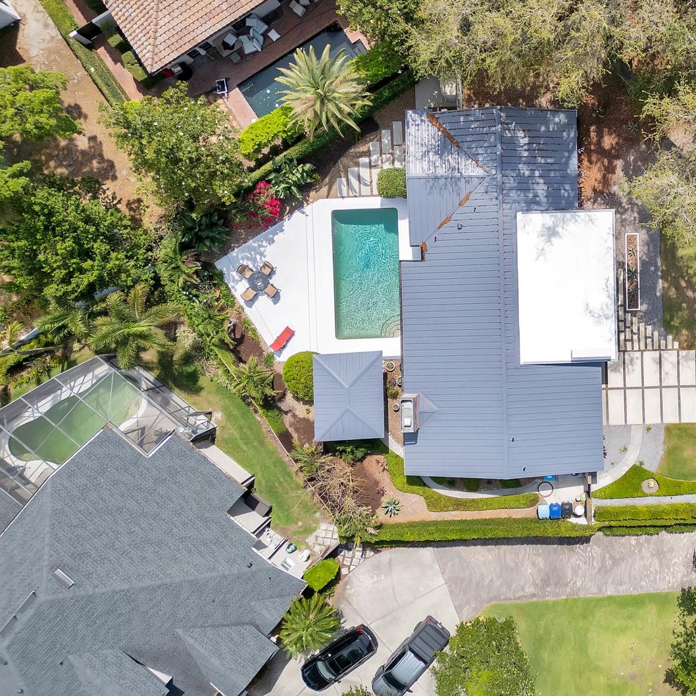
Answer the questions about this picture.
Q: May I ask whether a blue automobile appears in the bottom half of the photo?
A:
No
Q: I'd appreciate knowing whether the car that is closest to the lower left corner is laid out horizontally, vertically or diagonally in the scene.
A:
diagonally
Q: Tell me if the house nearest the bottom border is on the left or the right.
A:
left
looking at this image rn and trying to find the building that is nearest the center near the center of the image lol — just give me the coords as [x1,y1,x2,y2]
[313,350,390,443]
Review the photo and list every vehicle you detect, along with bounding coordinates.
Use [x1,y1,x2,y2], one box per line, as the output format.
[300,621,381,694]
[367,613,451,696]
